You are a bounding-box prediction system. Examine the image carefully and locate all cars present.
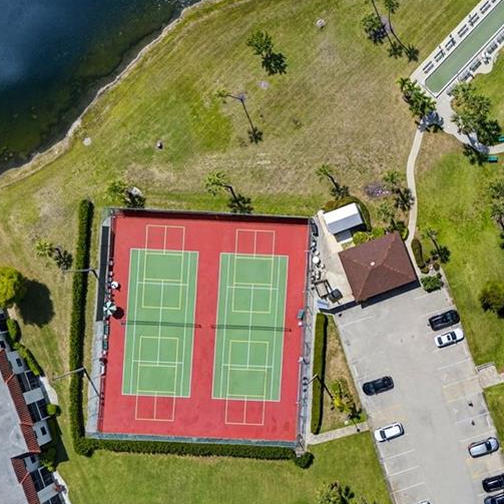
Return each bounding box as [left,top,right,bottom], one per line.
[467,435,499,455]
[374,422,404,441]
[481,472,504,492]
[427,310,460,329]
[433,329,464,347]
[482,491,504,504]
[362,375,394,394]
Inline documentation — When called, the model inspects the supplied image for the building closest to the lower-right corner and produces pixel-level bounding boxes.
[338,232,419,302]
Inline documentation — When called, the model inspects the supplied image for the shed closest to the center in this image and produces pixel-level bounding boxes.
[323,203,362,234]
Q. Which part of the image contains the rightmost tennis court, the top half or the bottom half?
bottom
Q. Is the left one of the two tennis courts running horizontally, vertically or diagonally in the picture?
vertically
